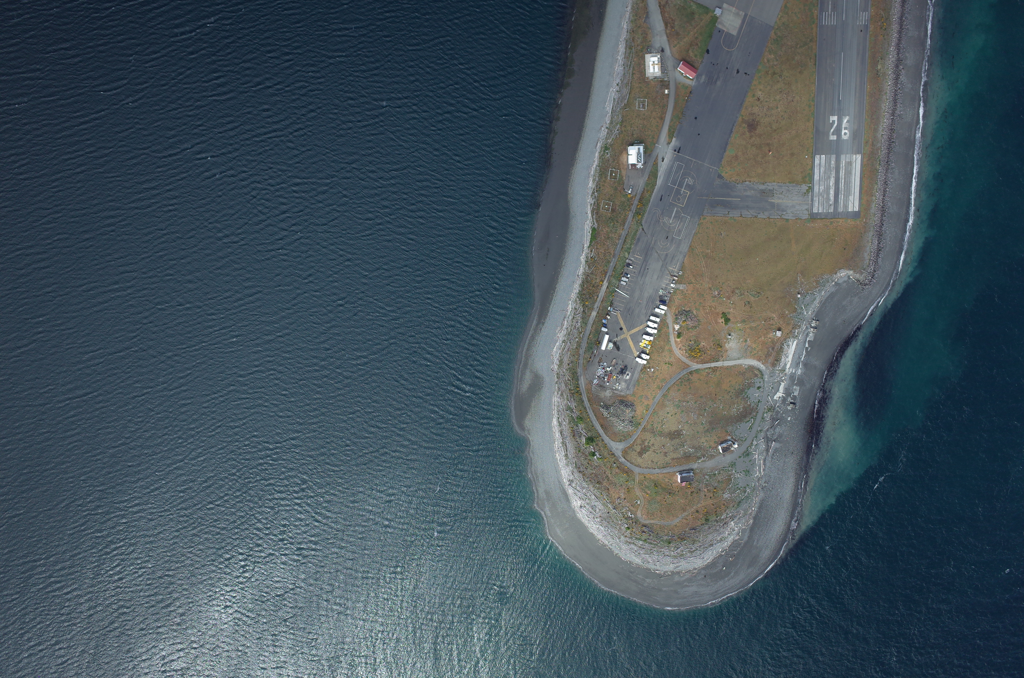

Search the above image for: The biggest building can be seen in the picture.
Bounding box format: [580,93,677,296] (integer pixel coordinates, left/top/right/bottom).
[627,144,644,165]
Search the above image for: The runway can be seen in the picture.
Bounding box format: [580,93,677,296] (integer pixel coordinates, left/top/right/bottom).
[810,0,871,219]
